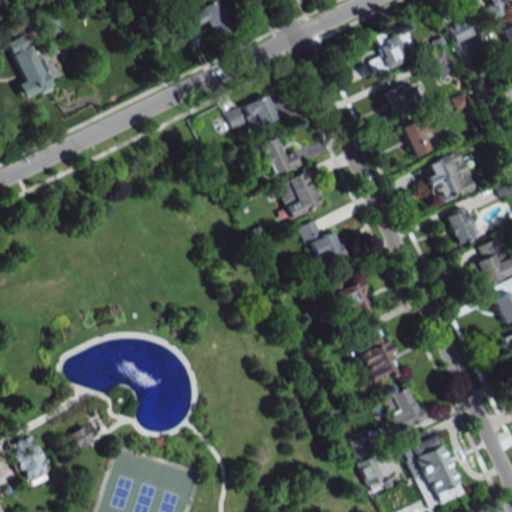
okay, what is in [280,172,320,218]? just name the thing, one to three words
house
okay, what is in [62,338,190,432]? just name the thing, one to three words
pond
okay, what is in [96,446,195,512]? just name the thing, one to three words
sports court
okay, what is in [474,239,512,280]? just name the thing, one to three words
house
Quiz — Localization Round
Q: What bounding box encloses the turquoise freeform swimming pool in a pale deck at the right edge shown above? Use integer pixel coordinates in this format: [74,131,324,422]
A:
[474,202,512,236]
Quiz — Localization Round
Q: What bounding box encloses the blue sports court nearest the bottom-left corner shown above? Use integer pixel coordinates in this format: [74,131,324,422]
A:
[110,476,133,510]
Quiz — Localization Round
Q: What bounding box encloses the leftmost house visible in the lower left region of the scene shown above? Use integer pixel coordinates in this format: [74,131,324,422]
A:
[12,432,50,490]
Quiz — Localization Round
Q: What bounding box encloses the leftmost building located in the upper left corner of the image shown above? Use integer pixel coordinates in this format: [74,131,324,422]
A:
[12,37,56,100]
